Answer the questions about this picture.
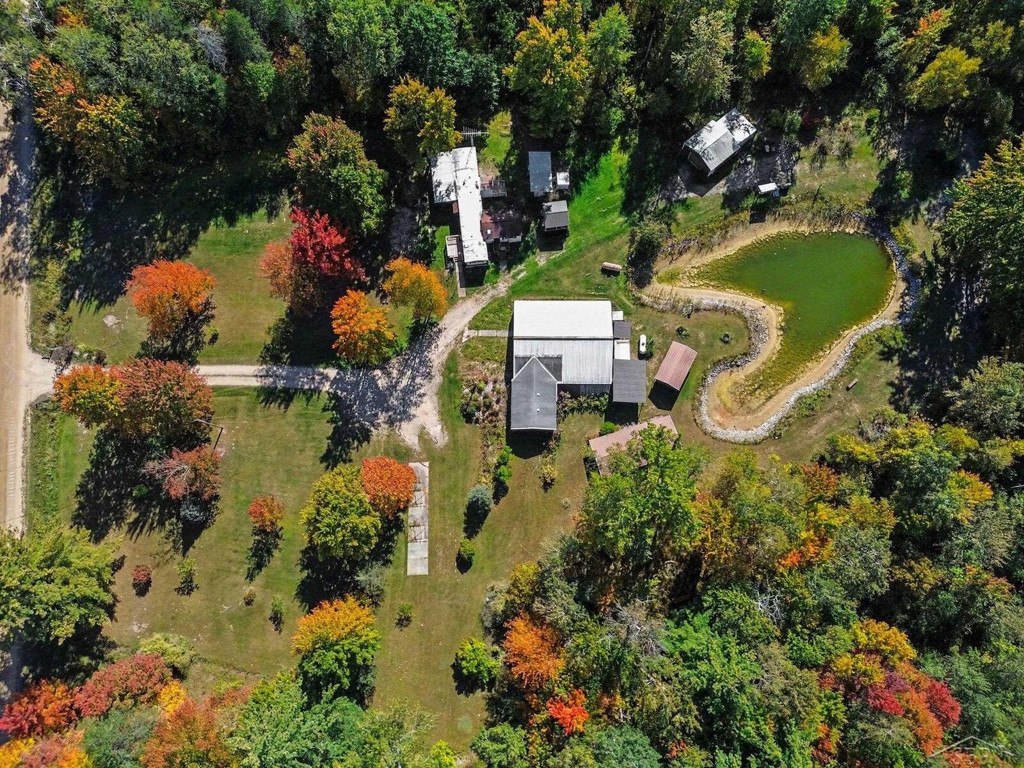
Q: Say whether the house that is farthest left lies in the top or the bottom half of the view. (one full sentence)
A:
The house that is farthest left is in the top half of the image.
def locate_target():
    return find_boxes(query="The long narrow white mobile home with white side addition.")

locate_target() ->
[431,146,488,266]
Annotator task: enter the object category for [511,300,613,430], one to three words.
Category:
house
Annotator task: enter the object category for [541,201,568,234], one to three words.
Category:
shed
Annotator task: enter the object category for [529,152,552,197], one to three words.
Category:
shed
